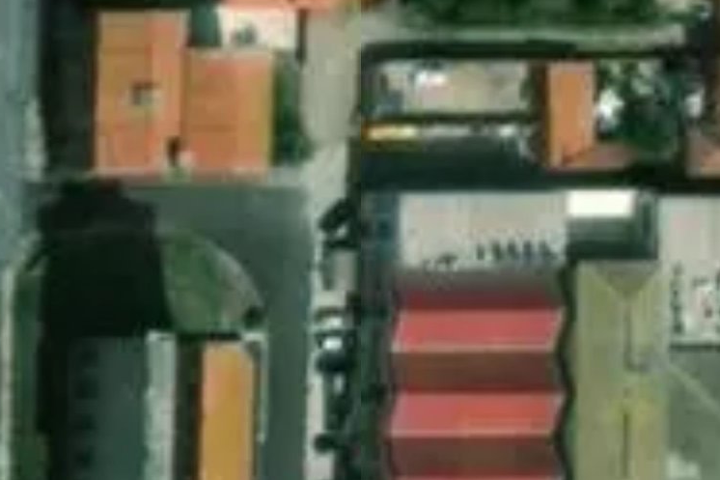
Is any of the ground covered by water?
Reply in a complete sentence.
No, the scene doesn't show any water.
